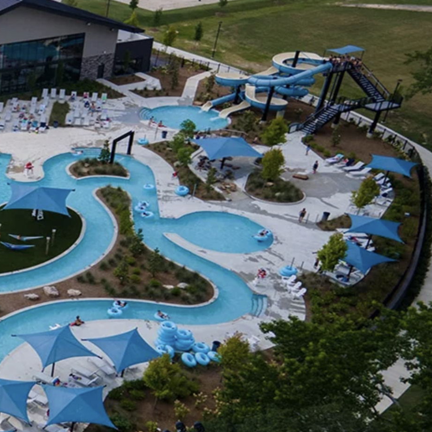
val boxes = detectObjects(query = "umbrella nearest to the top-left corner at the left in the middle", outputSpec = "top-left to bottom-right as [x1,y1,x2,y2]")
[1,183,75,223]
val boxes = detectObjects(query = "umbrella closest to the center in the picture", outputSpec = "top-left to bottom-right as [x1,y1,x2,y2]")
[188,136,265,171]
